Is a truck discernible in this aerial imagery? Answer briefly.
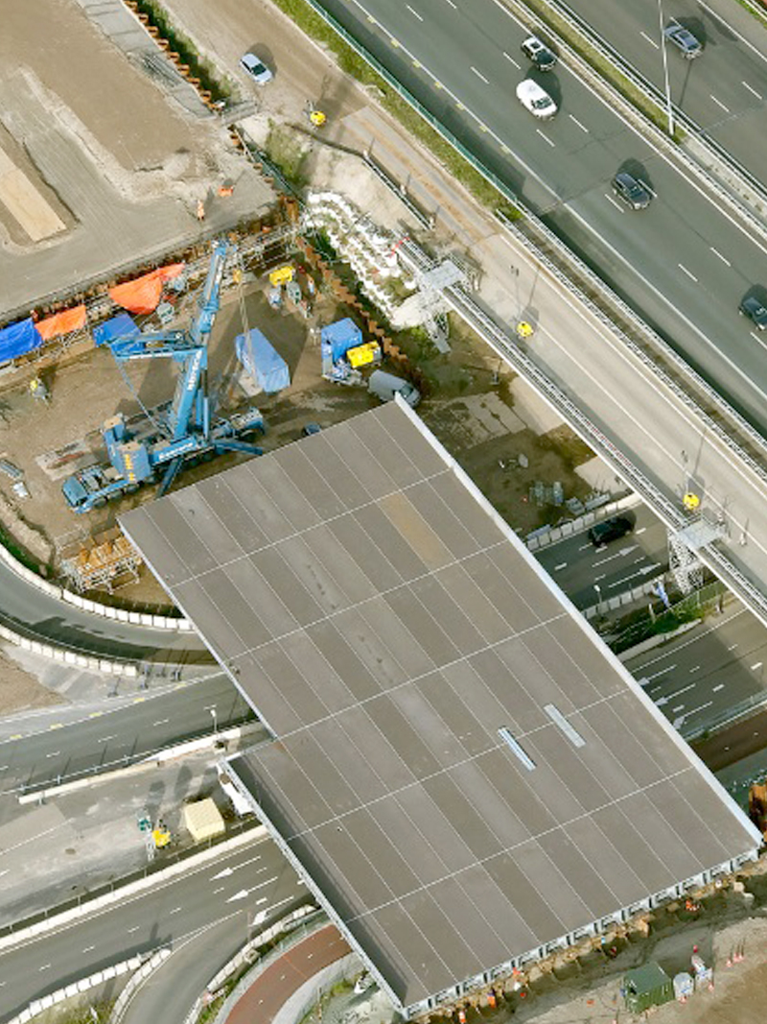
Yes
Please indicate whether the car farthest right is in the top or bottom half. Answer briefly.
top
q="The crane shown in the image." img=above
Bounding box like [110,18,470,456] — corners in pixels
[66,237,278,516]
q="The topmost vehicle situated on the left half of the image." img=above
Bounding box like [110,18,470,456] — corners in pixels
[238,52,272,86]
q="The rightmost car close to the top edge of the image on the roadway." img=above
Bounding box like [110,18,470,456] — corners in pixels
[664,26,705,58]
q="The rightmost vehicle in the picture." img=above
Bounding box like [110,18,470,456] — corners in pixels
[738,284,767,327]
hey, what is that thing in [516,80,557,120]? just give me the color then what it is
white car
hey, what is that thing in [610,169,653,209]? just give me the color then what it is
gray car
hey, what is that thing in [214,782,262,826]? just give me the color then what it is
white truck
